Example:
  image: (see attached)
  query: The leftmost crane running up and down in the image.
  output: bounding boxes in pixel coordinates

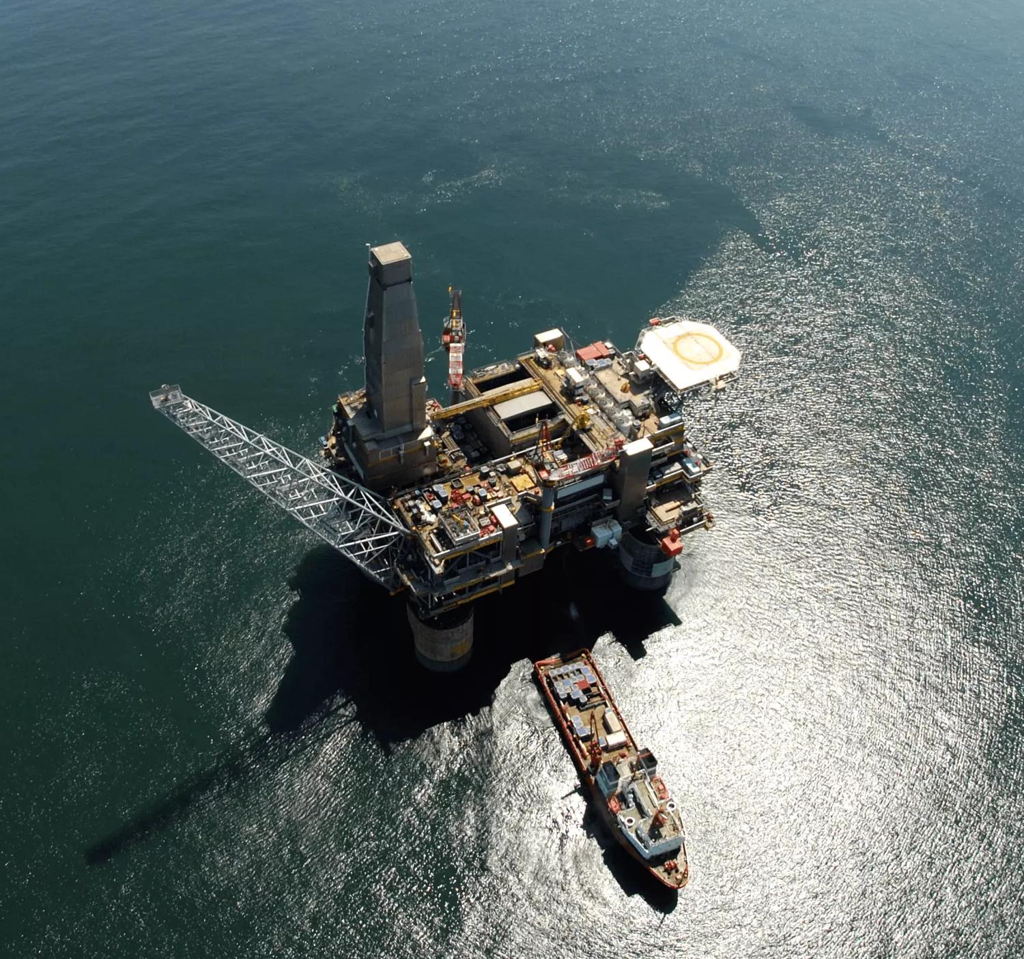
[439,289,464,418]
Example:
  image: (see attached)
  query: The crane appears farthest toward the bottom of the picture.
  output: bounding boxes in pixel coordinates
[587,710,605,771]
